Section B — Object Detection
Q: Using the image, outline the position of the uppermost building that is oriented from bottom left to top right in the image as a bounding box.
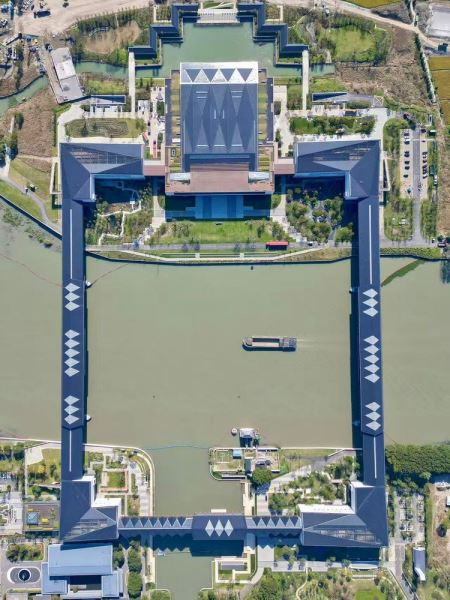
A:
[128,3,200,59]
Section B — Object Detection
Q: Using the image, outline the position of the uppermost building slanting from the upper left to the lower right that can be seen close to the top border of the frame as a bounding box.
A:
[237,3,309,56]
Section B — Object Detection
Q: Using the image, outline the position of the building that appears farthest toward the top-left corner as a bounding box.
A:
[51,46,86,106]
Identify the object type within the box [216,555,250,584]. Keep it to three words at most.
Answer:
building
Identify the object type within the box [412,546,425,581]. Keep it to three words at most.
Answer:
shed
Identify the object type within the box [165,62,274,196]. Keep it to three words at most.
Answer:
building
